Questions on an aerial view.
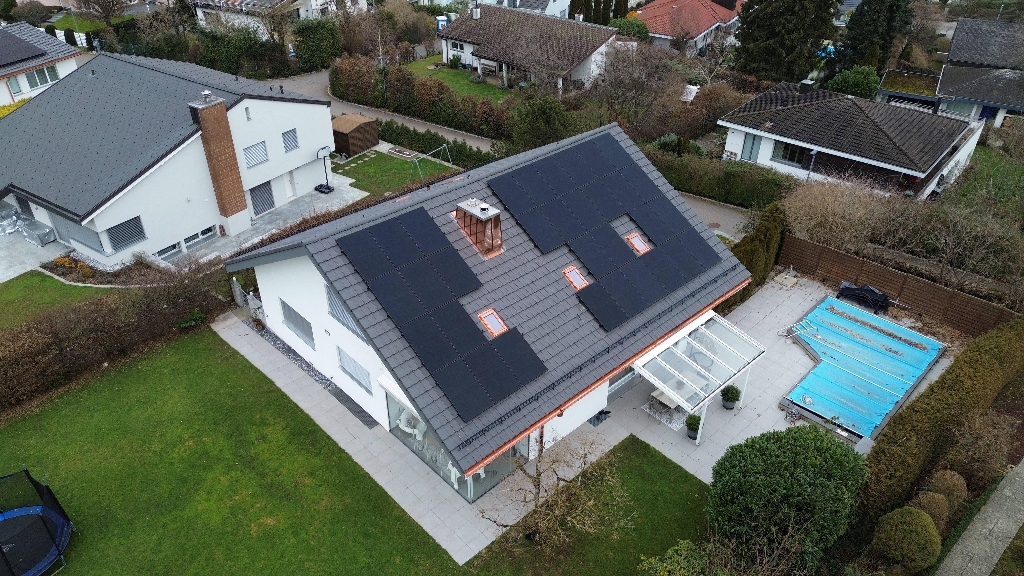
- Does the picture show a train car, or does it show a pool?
pool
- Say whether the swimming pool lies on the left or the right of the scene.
right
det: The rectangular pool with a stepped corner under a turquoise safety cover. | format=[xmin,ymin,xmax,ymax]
[778,294,956,454]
